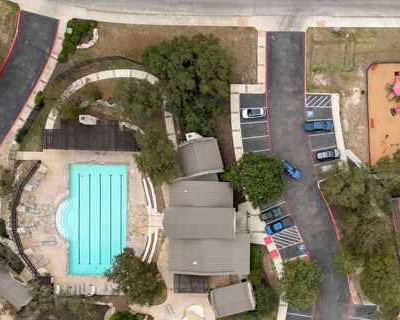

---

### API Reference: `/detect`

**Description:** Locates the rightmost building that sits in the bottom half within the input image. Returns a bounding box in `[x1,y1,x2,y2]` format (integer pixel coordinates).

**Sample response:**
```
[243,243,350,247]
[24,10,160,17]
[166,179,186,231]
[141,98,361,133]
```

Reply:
[211,281,253,318]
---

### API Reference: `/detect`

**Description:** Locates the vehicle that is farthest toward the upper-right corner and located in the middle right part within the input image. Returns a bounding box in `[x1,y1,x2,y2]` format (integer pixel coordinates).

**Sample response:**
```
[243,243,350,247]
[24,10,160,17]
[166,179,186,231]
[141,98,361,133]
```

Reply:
[304,120,333,132]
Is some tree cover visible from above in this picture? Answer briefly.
Yes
